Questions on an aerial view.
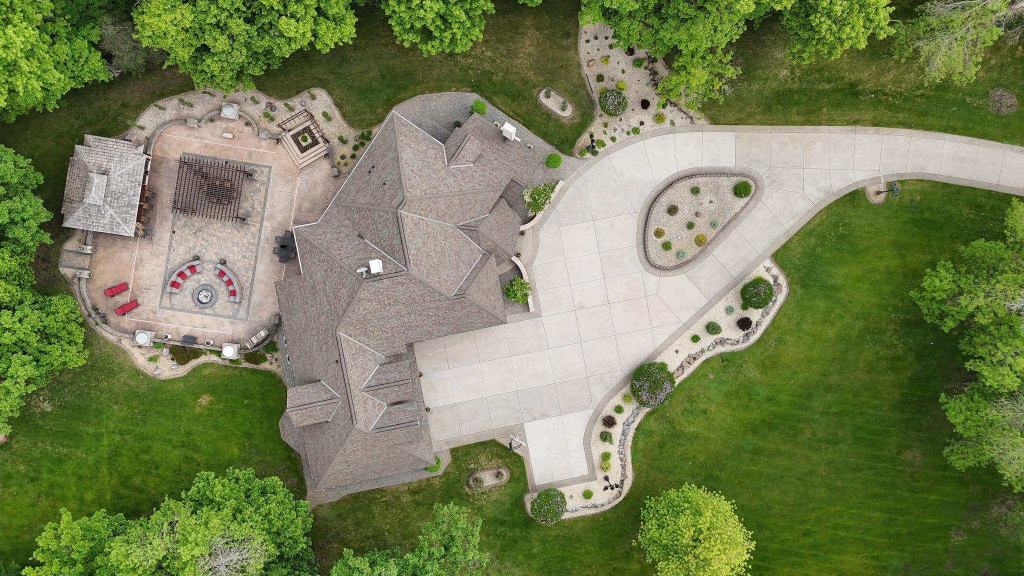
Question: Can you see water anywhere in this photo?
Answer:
No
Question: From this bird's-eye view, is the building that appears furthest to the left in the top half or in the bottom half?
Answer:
top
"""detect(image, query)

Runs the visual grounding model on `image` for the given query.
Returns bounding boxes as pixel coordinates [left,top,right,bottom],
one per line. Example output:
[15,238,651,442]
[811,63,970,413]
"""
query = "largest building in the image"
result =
[275,110,542,492]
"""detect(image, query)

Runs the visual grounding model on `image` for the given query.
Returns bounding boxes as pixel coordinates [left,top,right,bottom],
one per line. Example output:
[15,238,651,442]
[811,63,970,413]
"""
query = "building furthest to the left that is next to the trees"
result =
[61,134,146,237]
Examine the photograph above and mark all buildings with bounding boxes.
[275,110,542,492]
[61,134,146,237]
